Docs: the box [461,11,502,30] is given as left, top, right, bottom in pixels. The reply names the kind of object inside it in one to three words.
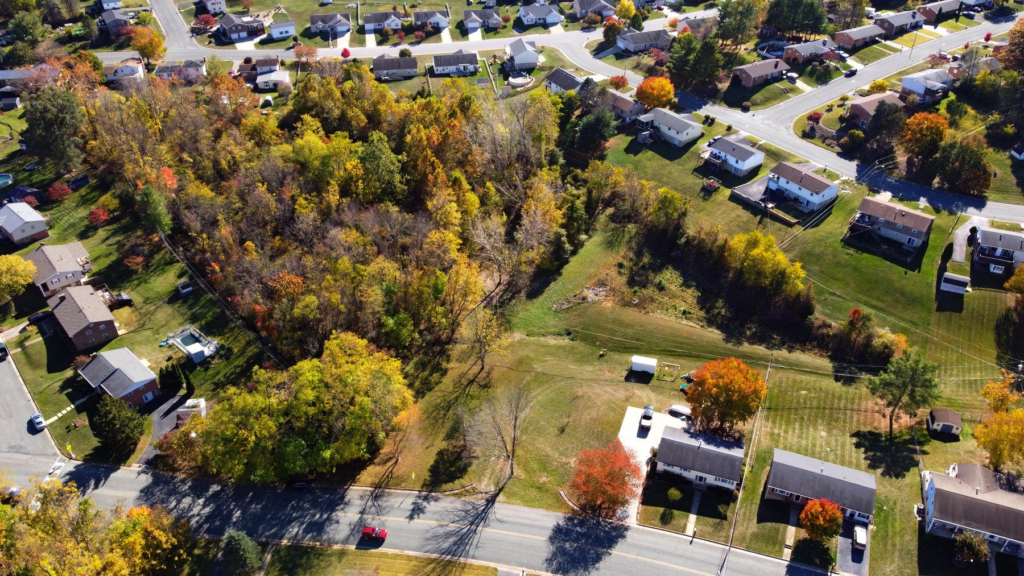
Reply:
house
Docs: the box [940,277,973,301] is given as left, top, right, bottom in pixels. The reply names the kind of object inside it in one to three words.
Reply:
shed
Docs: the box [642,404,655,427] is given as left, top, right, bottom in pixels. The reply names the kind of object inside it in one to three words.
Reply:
vehicle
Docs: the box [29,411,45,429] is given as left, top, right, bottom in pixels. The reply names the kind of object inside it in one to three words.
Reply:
car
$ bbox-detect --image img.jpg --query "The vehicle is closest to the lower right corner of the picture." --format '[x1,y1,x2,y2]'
[854,523,869,550]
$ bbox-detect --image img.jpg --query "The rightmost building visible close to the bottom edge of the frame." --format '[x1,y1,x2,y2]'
[918,456,1024,565]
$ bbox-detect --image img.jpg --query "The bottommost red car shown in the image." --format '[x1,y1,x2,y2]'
[360,528,389,544]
